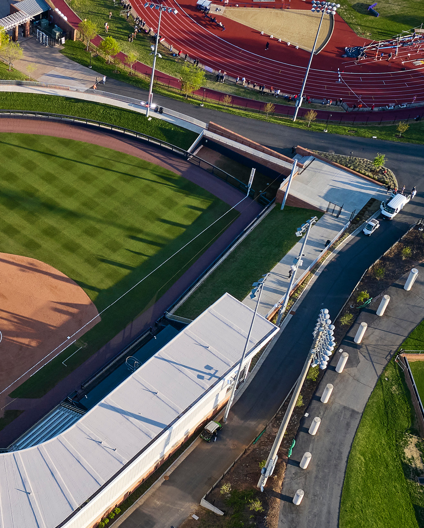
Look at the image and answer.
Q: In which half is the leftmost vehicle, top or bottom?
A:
bottom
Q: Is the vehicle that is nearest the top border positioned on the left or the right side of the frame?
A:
right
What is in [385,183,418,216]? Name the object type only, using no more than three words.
vehicle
